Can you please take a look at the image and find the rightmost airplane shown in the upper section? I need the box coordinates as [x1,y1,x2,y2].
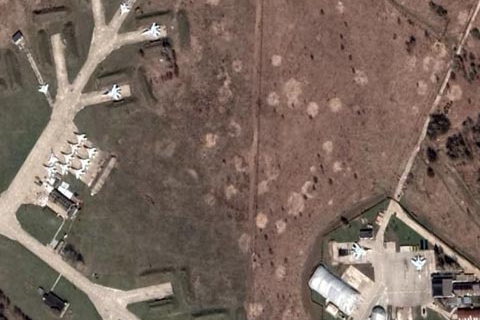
[141,24,162,37]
